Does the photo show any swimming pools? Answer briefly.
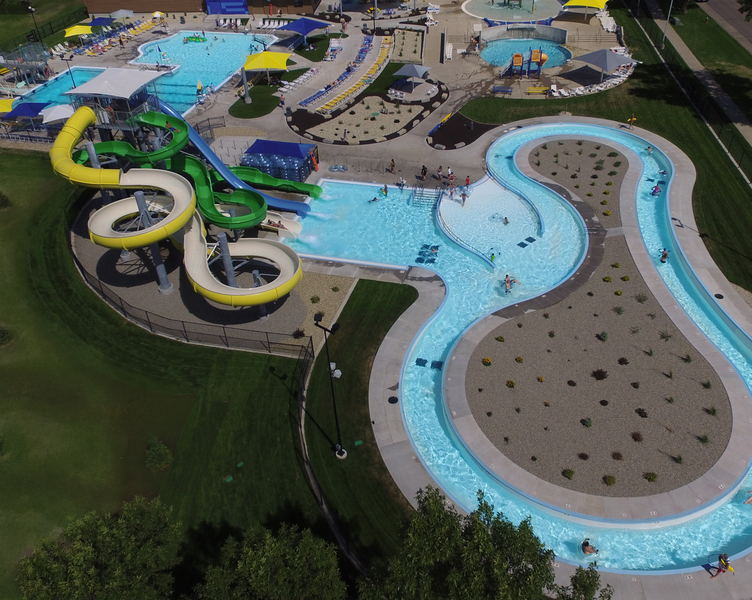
Yes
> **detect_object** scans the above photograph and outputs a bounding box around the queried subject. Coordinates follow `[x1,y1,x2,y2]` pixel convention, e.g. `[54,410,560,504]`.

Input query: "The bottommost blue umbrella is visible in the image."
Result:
[1,103,53,129]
